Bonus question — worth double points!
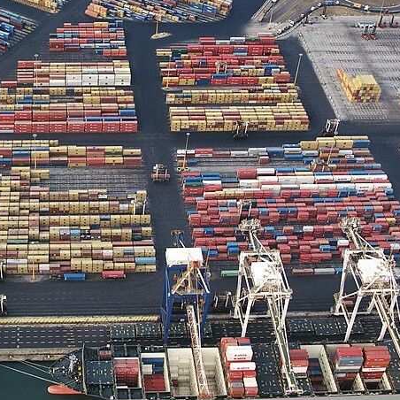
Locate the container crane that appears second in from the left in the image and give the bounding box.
[233,219,301,388]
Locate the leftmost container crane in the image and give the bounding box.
[156,213,216,397]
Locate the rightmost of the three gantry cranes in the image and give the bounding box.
[337,217,400,353]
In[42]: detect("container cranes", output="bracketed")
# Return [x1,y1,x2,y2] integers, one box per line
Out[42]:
[156,213,216,397]
[233,219,301,388]
[337,217,400,353]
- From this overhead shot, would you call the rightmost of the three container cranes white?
Yes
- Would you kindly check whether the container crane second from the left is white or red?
white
